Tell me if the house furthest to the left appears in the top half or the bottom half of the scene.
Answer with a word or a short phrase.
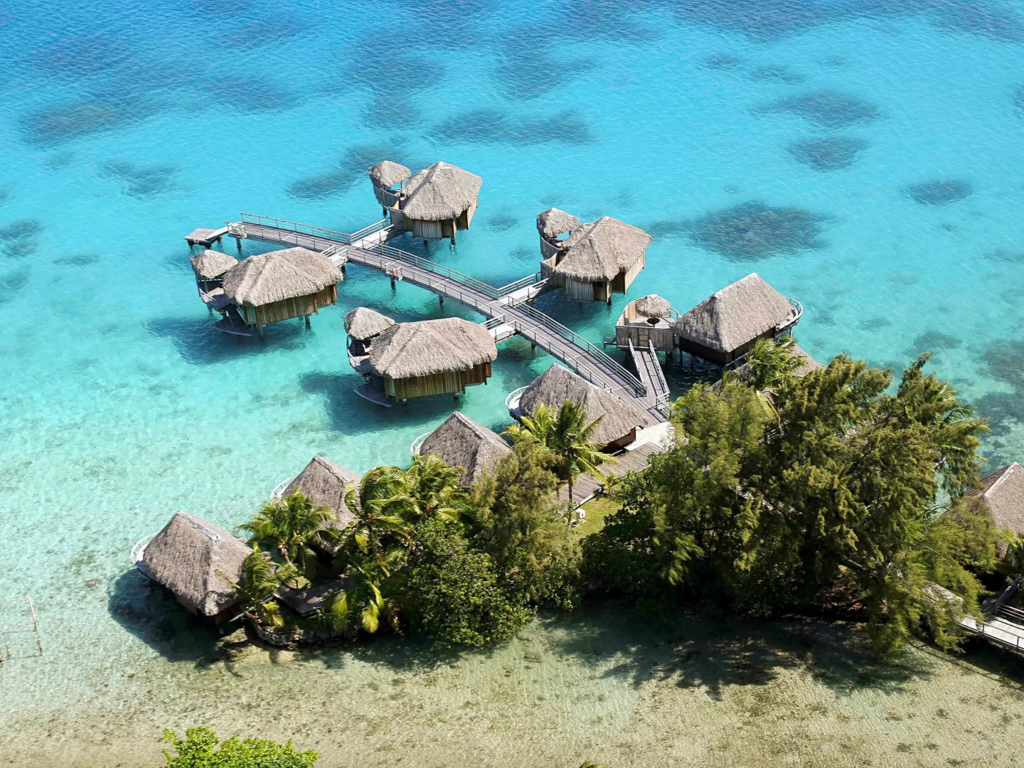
bottom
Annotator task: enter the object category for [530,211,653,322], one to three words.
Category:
house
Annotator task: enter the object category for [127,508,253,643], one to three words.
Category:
house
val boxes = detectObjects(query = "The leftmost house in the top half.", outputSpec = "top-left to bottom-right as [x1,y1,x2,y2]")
[187,245,343,337]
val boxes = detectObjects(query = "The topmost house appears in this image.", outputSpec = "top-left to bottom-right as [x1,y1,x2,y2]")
[365,160,483,260]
